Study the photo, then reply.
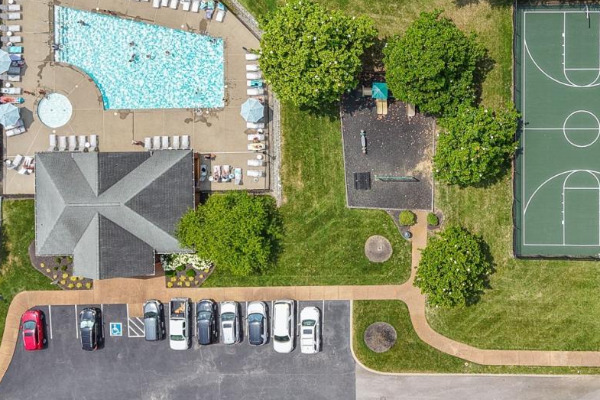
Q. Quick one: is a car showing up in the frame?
Yes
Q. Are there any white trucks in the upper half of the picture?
No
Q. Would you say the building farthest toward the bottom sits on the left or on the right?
left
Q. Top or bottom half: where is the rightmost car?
bottom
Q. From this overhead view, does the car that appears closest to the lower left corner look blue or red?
red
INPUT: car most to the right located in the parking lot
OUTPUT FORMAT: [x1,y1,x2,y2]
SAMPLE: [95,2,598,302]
[300,305,322,355]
